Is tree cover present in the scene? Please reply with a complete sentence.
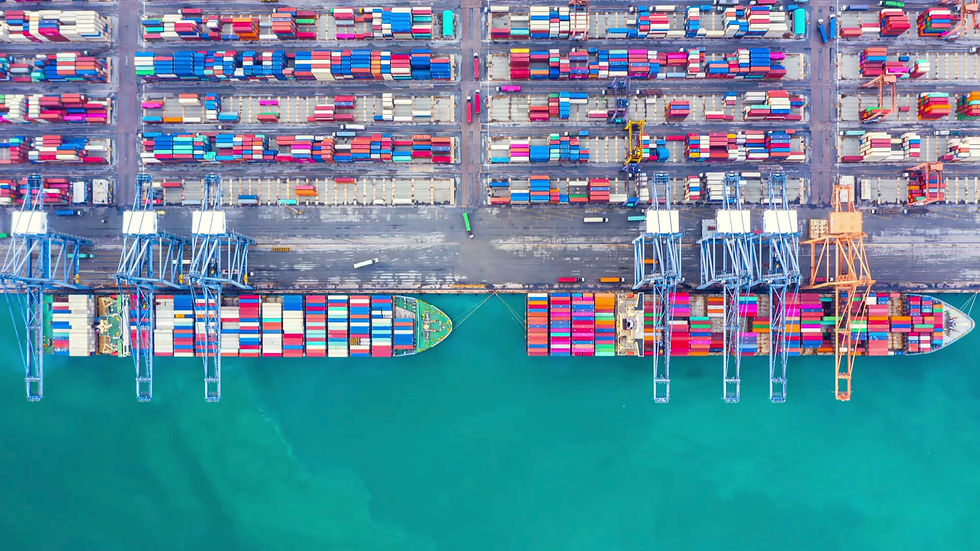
No, there is no tree cover in the image.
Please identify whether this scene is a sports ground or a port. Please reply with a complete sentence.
It's a port.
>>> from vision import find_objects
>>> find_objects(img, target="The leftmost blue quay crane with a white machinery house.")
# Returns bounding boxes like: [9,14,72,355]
[0,173,99,401]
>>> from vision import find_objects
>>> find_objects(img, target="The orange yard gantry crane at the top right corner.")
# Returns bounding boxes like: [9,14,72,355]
[941,0,977,43]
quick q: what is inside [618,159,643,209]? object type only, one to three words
container crane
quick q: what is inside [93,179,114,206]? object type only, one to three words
shed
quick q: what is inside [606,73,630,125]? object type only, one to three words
container crane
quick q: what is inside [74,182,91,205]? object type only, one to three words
shed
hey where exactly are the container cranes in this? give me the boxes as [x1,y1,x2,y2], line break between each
[620,115,644,165]
[861,72,895,125]
[114,173,197,401]
[0,173,99,401]
[568,0,590,43]
[689,173,756,401]
[730,173,805,401]
[626,173,682,401]
[941,0,977,43]
[908,158,944,209]
[793,184,876,400]
[606,73,630,125]
[618,159,643,209]
[187,173,259,401]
